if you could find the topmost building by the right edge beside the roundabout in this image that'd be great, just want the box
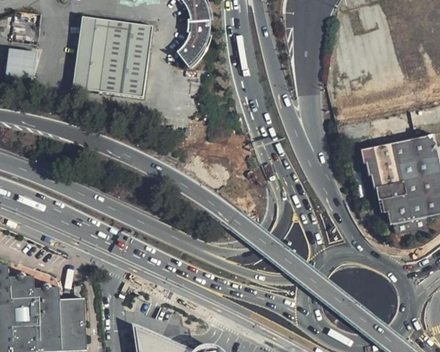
[360,134,440,225]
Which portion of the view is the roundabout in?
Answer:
bottom right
